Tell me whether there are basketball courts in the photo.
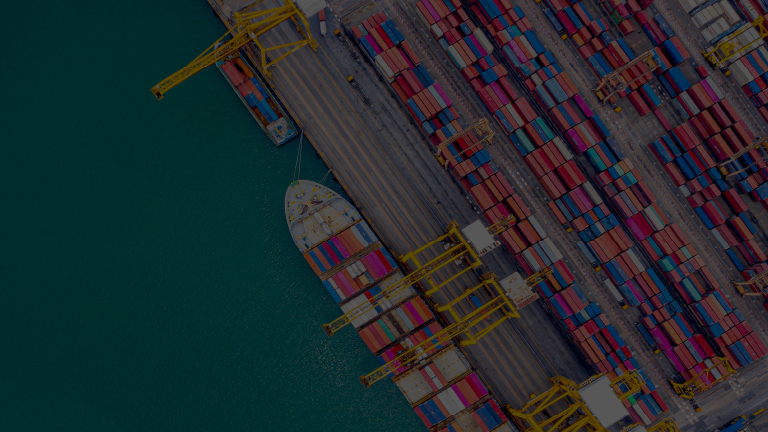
No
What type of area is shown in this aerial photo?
port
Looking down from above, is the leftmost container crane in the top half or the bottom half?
top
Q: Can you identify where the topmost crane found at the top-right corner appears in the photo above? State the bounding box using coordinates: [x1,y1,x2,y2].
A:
[698,17,768,72]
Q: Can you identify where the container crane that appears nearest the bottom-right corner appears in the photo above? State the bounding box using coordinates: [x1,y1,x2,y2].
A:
[662,346,742,400]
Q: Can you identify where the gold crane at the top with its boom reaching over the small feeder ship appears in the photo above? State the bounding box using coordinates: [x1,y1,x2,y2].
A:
[146,0,334,97]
